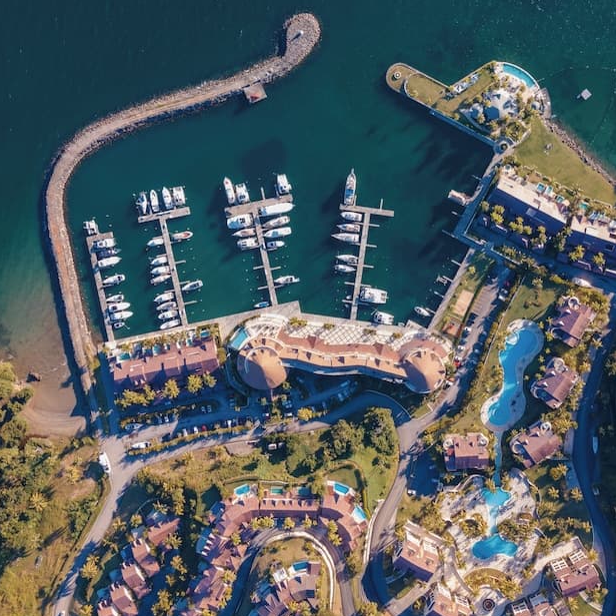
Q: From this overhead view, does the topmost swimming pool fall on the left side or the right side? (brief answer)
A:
right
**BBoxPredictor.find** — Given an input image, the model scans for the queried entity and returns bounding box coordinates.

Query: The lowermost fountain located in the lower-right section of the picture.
[479,596,497,615]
